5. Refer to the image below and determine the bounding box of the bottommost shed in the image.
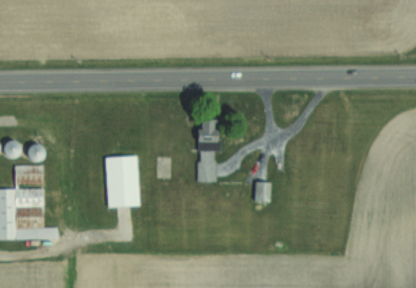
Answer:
[16,228,58,240]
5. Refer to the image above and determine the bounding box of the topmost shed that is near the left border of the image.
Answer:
[15,164,44,184]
